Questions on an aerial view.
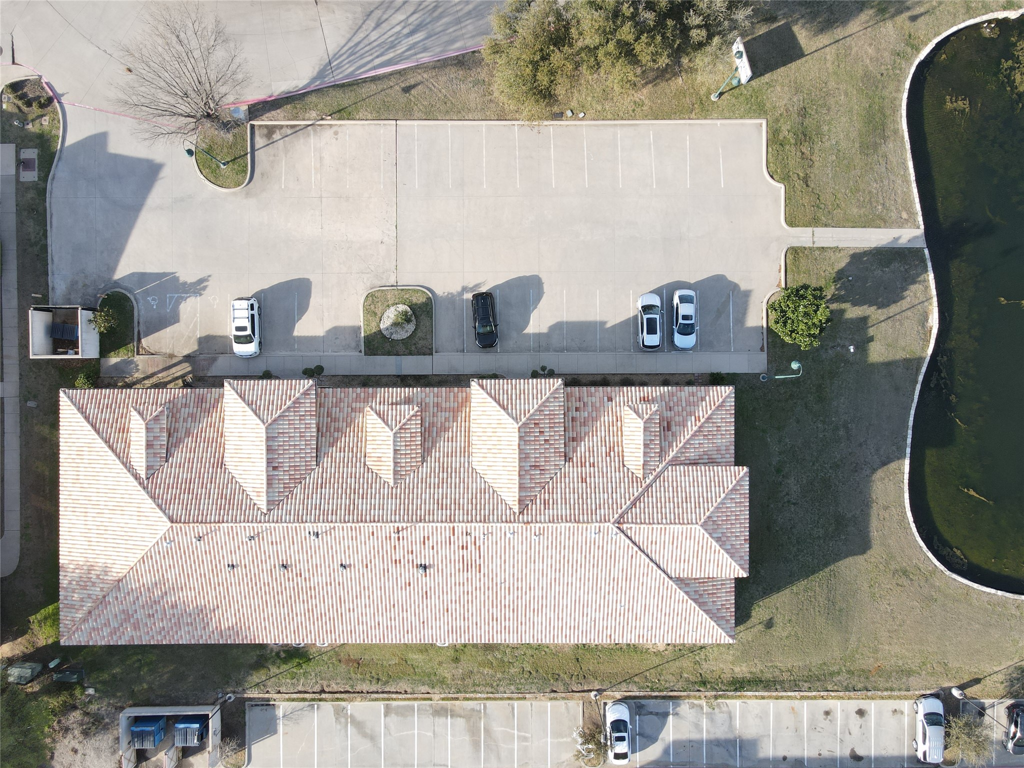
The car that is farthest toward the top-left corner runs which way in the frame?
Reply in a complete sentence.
The car that is farthest toward the top-left corner has been laid out vertically relative to the frame.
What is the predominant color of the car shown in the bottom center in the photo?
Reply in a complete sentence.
From above, the car shown in the bottom center appears white.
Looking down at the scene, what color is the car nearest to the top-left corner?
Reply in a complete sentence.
From above, the car nearest to the top-left corner appears white.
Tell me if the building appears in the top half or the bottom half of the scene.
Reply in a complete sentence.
The building sits in the bottom half of the picture.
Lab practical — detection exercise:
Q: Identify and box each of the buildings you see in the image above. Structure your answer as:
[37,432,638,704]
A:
[57,377,750,646]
